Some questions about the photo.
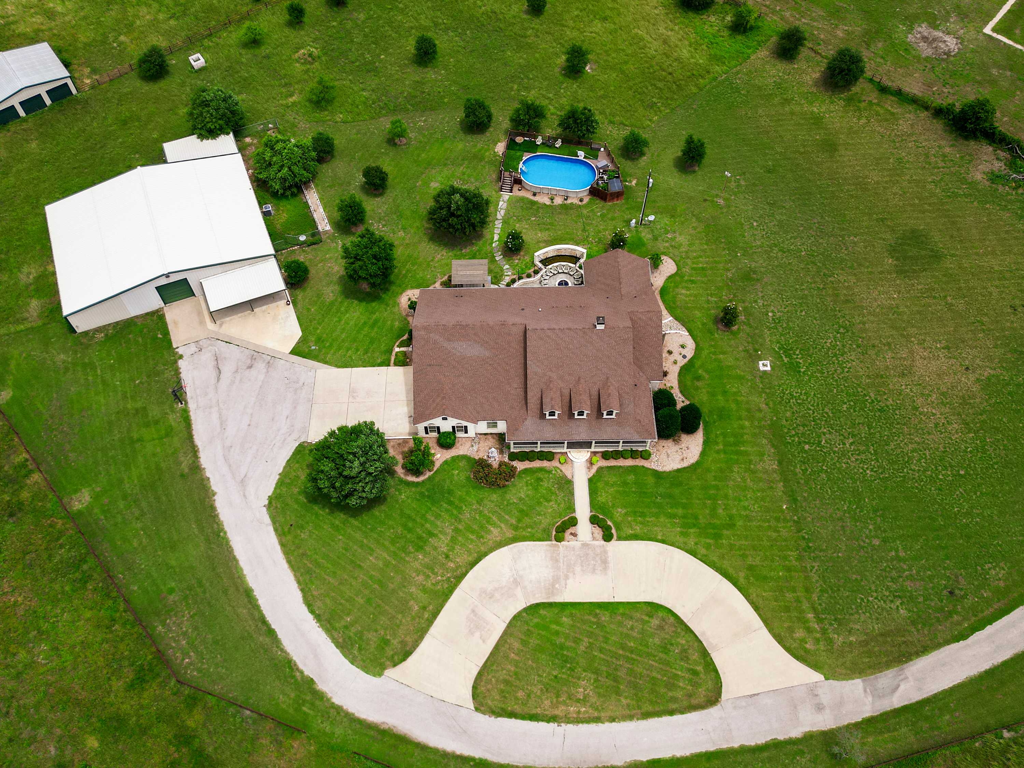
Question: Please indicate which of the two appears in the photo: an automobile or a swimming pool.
swimming pool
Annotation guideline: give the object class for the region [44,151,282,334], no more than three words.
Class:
barn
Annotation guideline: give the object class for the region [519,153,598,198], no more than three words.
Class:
swimming pool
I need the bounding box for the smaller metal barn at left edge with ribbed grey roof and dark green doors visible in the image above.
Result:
[0,41,79,126]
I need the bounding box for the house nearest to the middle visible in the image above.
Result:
[412,248,664,463]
